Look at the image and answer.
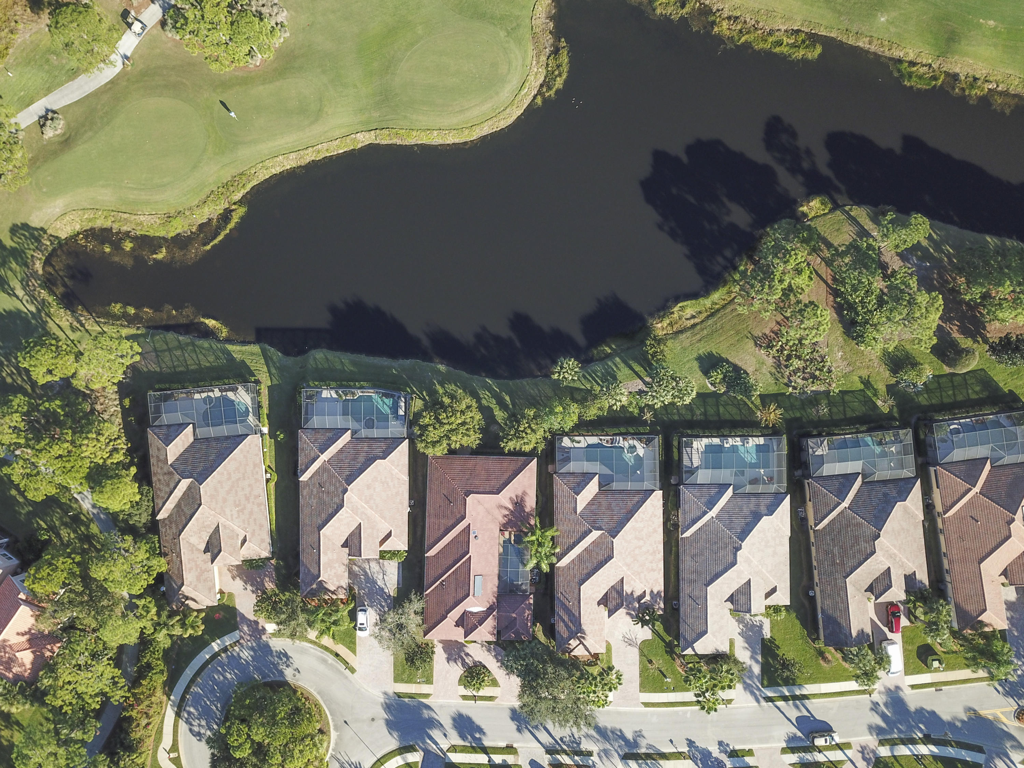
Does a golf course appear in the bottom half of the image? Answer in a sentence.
No, no golf course is visible in the bottom half of the image.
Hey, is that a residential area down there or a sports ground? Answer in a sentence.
The area seen from above is a residential area.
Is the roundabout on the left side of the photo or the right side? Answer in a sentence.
You can find the roundabout on the left side of the picture.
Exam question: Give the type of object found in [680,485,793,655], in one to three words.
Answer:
house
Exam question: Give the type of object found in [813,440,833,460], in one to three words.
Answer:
umbrella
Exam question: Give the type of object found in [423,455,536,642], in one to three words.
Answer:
house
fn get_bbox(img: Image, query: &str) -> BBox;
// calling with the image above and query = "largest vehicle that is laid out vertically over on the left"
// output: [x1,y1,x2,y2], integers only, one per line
[355,608,369,638]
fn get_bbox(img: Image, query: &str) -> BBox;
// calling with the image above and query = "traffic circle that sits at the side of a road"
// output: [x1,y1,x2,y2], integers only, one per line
[217,676,336,768]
